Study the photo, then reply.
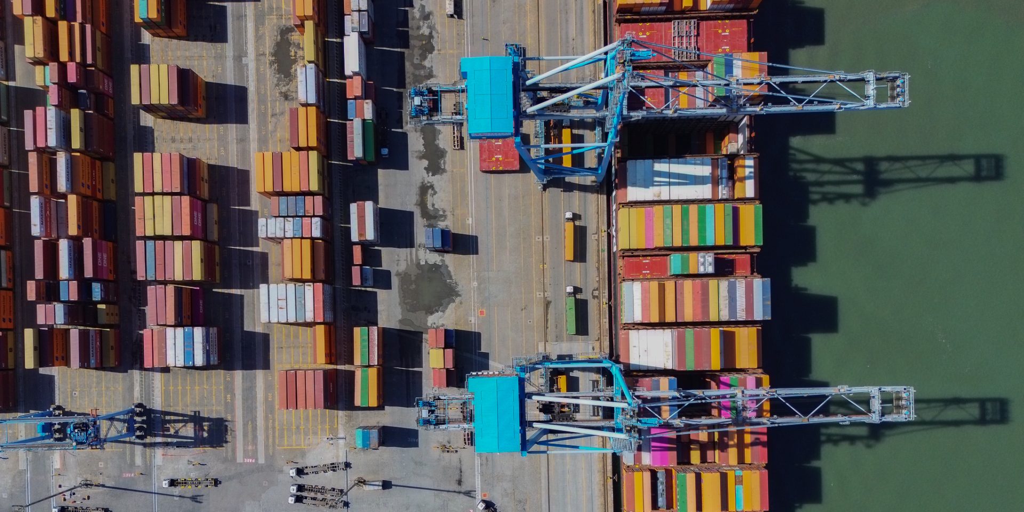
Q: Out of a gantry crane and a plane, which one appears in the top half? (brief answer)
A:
gantry crane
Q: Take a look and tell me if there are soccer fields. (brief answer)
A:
No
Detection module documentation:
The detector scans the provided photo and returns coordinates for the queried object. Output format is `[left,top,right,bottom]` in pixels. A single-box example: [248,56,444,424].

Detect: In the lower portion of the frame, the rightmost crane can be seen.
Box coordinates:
[415,348,922,463]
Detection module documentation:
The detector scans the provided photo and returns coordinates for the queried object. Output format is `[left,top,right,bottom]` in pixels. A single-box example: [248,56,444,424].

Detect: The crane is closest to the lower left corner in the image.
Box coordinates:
[0,401,143,454]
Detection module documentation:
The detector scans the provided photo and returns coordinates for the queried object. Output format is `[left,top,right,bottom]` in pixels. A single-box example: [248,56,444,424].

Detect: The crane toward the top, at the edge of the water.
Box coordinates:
[408,31,916,193]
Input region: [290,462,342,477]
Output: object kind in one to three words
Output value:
vehicle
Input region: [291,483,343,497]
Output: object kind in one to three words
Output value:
vehicle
